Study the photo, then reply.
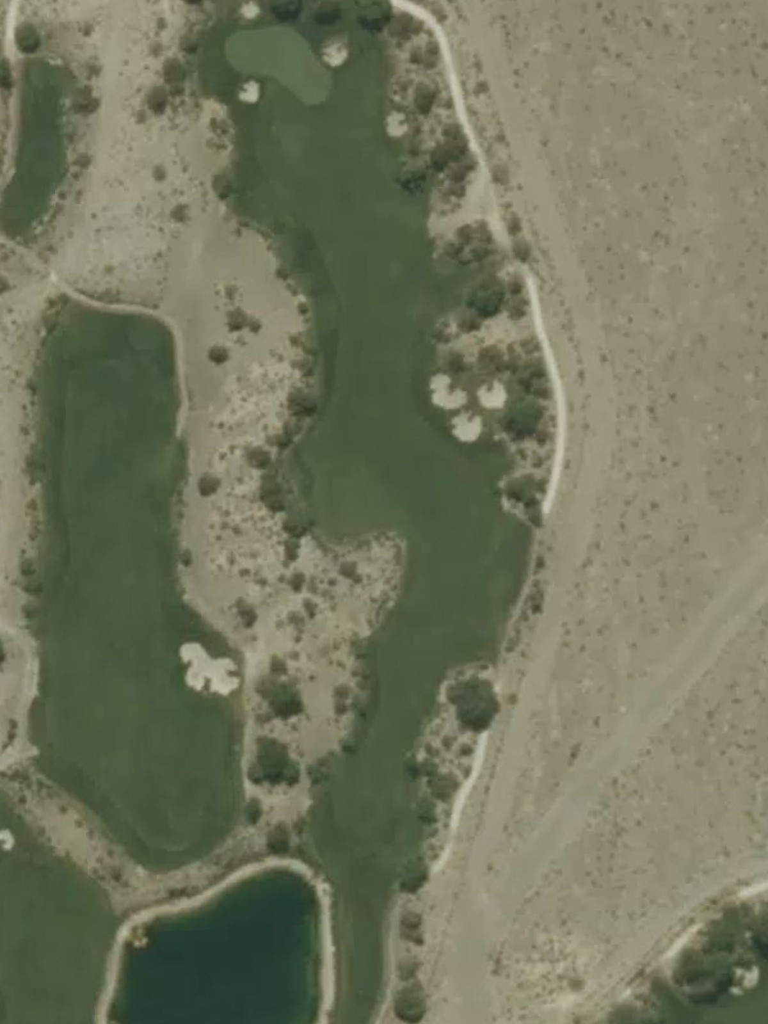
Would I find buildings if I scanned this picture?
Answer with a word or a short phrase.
No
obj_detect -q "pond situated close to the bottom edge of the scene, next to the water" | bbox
[110,868,319,1024]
